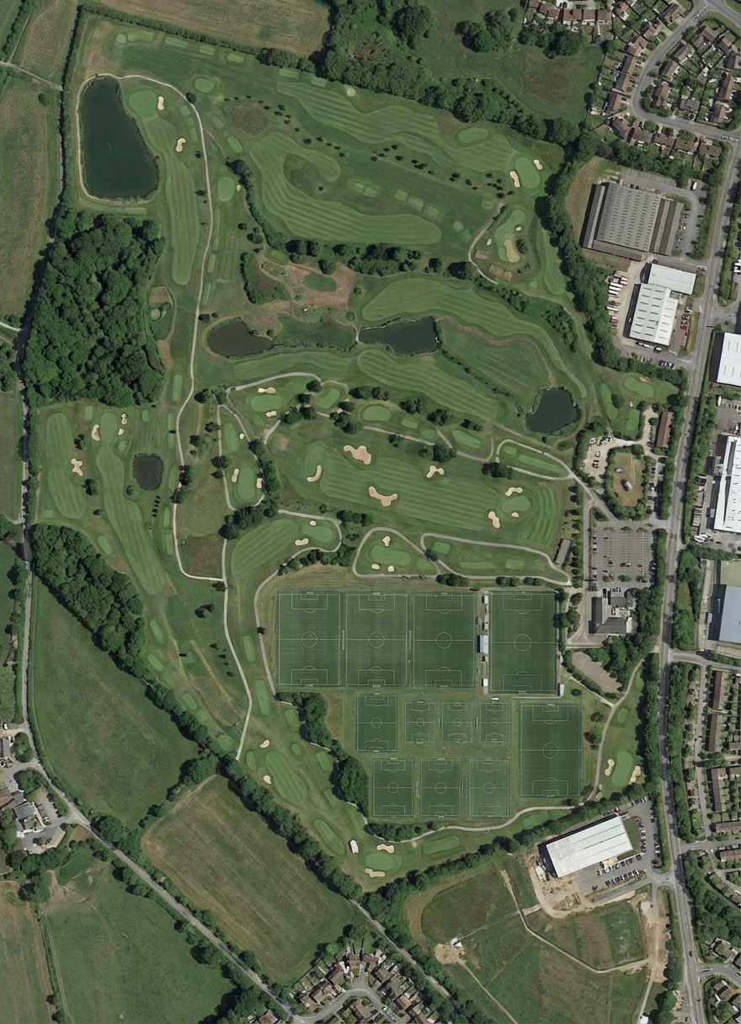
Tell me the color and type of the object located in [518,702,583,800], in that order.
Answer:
green soccer field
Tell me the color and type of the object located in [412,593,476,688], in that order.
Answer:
green soccer field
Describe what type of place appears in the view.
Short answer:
golf course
